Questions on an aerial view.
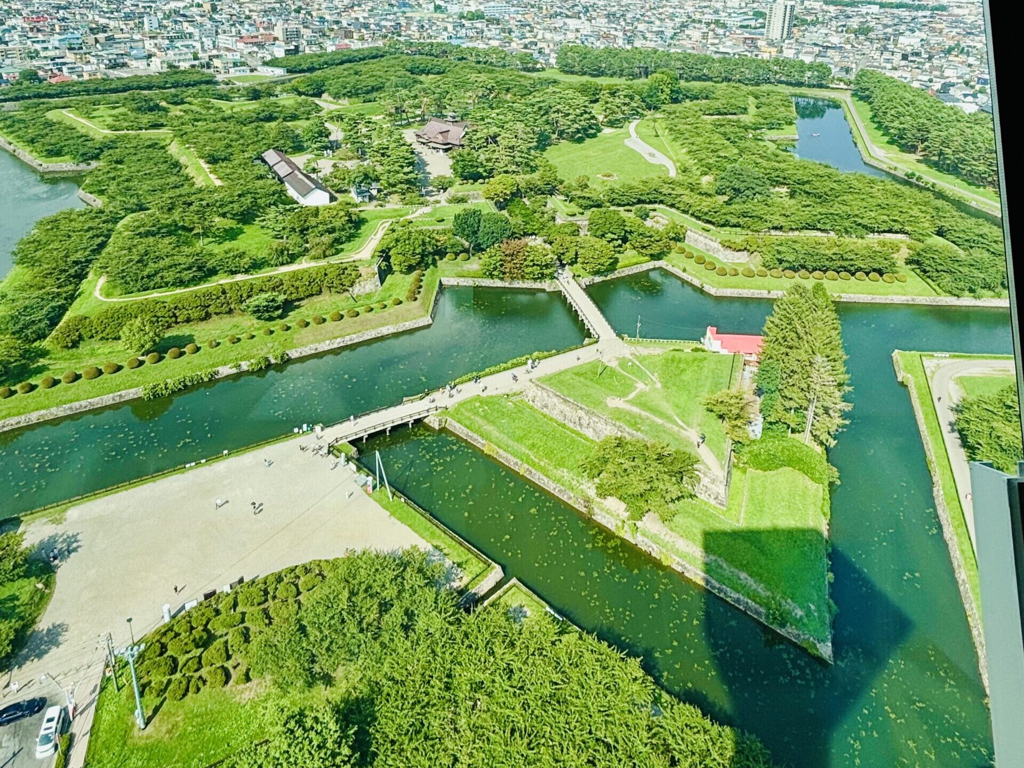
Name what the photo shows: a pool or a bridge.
bridge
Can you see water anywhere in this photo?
Yes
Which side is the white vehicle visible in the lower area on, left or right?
left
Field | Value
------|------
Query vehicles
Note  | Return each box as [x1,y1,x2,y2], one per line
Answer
[37,705,67,760]
[0,696,47,728]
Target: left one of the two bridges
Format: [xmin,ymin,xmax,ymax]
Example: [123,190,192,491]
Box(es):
[307,386,456,453]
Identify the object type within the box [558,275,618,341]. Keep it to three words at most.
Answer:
bridge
